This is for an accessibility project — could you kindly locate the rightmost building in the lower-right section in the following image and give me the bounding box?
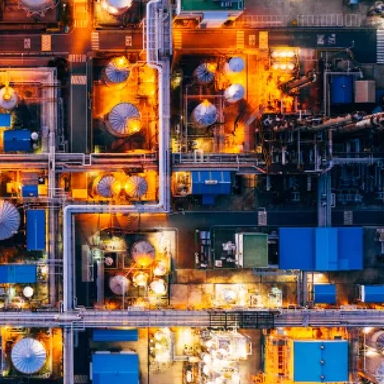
[357,283,384,302]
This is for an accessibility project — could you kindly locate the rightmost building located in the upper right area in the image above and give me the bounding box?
[347,80,375,104]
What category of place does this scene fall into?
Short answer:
industrial area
